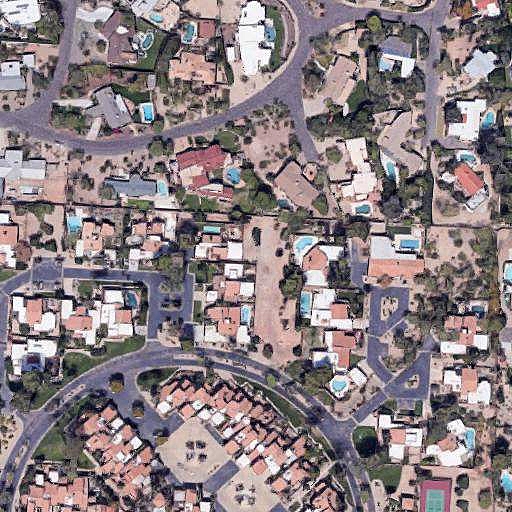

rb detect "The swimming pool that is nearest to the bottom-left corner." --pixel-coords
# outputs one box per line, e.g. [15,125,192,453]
[124,290,139,311]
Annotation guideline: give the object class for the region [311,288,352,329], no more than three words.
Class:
house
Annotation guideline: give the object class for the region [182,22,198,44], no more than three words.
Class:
swimming pool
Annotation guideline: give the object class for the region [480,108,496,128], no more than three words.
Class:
swimming pool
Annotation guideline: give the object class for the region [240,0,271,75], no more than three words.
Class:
house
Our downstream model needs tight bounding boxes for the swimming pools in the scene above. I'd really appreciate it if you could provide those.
[224,164,245,187]
[140,103,154,123]
[500,469,512,494]
[382,155,397,183]
[464,428,476,452]
[300,290,312,318]
[458,150,479,166]
[294,236,318,256]
[328,374,350,396]
[480,108,496,128]
[182,22,198,44]
[470,302,488,318]
[67,208,82,234]
[157,177,168,198]
[124,290,139,311]
[264,20,276,42]
[241,304,252,324]
[149,12,164,22]
[377,58,395,74]
[202,226,222,234]
[394,235,422,252]
[140,32,154,50]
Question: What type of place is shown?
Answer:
residential area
